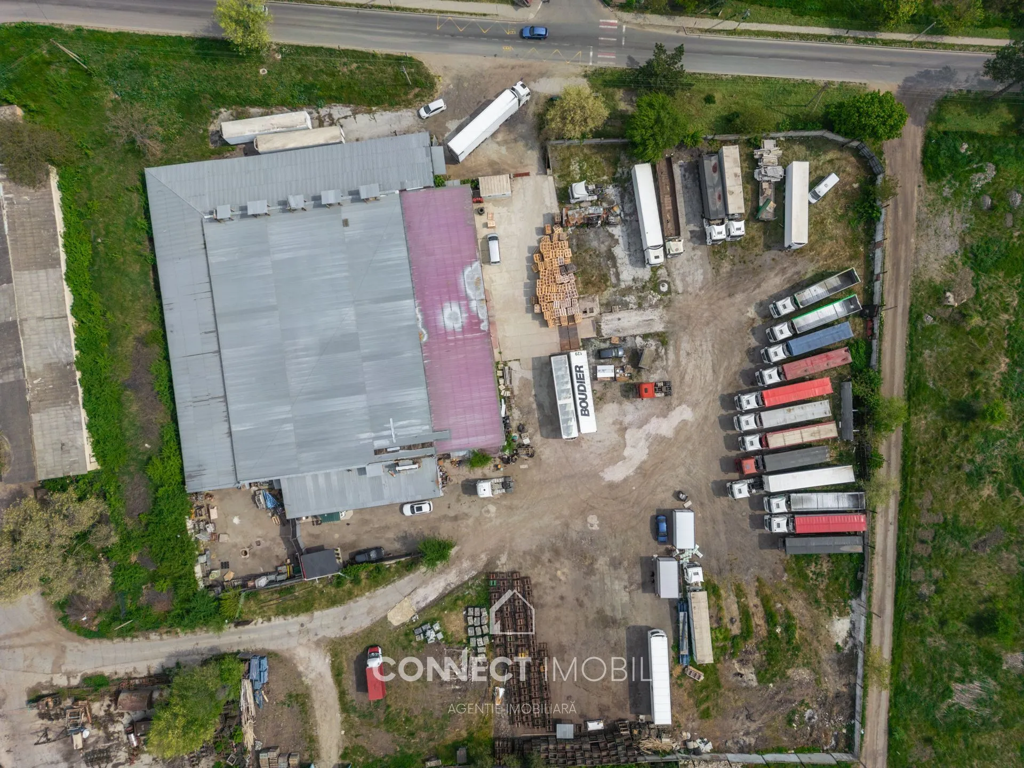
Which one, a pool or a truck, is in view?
truck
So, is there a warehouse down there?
Yes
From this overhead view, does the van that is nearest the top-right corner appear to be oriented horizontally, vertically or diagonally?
diagonally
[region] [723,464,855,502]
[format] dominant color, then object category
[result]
white truck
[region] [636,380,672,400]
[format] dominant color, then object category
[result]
red vehicle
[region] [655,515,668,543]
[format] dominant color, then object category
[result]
blue vehicle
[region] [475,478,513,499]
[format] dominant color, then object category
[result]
white truck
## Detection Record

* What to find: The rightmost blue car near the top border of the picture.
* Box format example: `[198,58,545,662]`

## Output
[520,27,548,41]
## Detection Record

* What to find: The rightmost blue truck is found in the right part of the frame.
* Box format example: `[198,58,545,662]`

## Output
[758,321,854,365]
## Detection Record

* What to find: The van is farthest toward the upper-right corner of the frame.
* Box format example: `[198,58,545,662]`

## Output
[808,169,845,206]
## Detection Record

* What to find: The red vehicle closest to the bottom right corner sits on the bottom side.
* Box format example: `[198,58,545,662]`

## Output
[762,511,868,534]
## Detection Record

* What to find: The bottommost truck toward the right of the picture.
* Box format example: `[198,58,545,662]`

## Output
[647,623,671,725]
